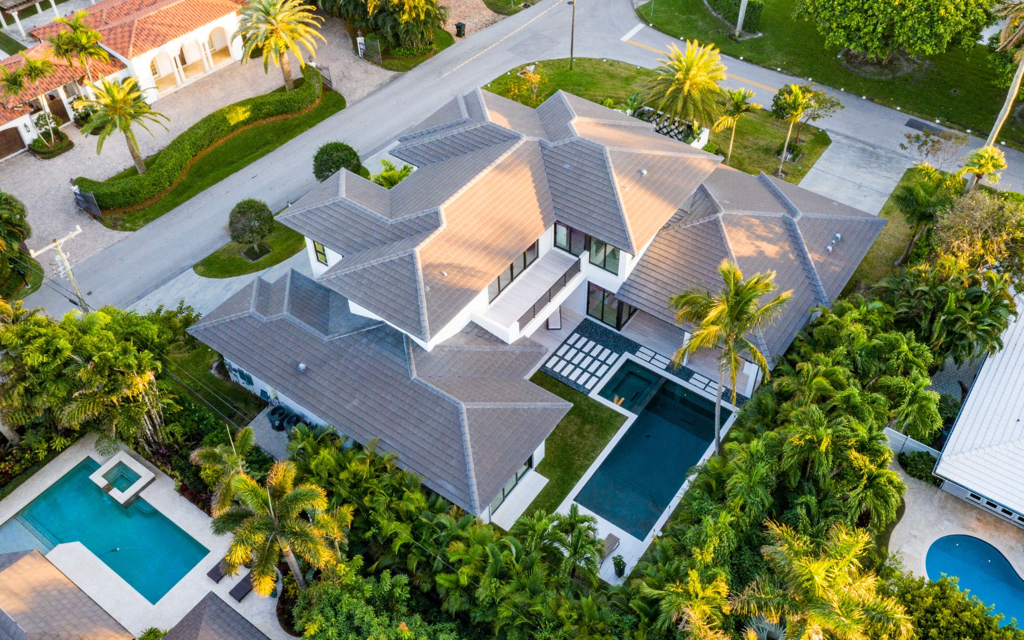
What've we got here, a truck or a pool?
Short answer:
pool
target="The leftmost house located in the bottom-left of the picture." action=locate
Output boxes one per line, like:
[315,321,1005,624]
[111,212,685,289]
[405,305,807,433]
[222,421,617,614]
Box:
[0,549,138,640]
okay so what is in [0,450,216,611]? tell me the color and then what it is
blue swimming pool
